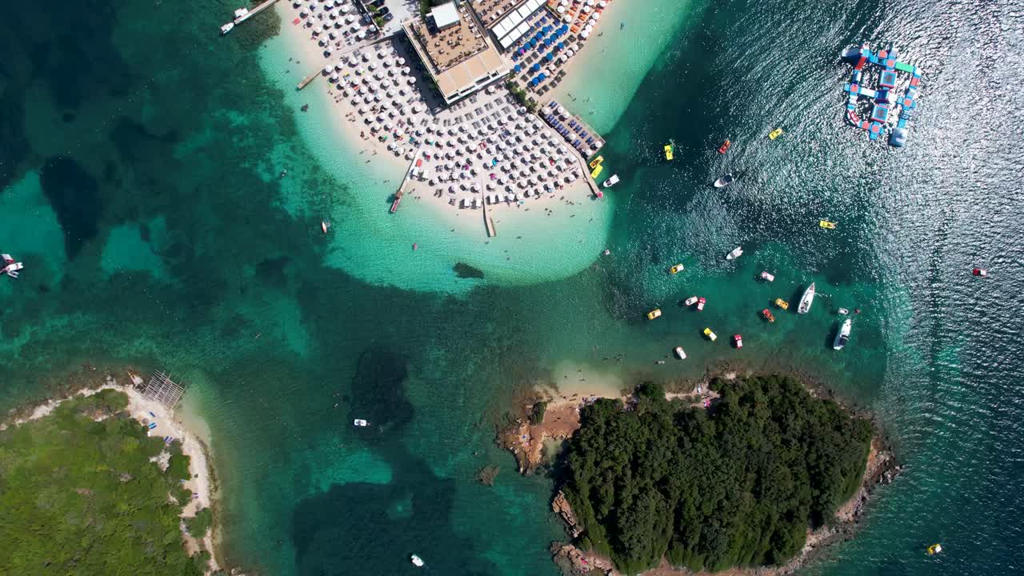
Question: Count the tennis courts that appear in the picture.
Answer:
0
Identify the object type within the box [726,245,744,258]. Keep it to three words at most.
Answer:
boat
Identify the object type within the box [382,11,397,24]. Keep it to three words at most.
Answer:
vehicle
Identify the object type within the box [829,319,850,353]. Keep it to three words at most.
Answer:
boat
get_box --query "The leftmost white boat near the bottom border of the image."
[409,553,424,566]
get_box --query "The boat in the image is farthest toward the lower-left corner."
[129,371,143,386]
